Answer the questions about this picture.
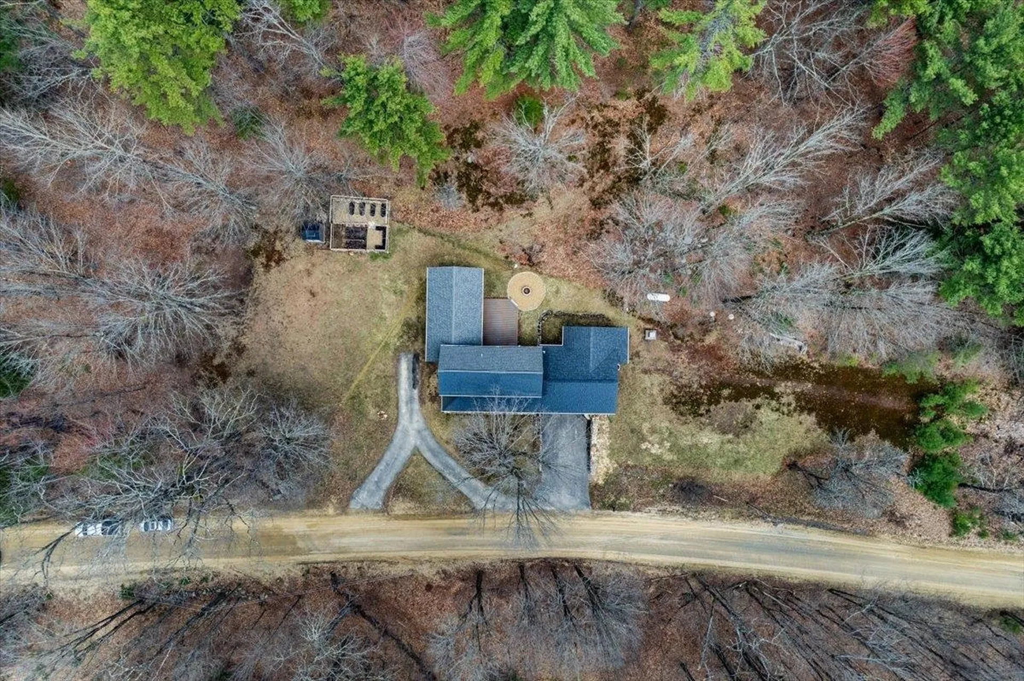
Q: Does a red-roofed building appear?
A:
No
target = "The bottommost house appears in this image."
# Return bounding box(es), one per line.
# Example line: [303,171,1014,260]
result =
[426,266,630,414]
